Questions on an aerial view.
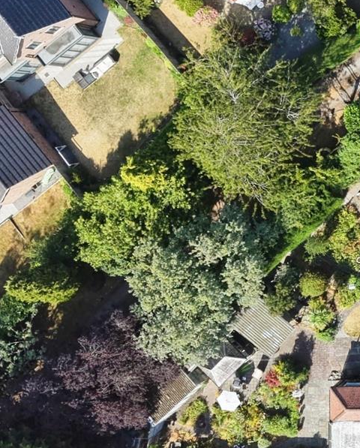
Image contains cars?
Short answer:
No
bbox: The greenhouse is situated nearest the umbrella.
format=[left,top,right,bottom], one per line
[210,352,252,387]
